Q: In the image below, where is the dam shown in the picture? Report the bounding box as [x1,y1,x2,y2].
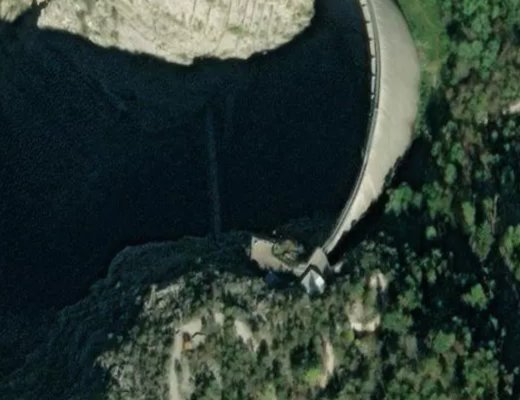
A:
[321,0,419,255]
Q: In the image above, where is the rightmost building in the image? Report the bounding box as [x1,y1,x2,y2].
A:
[301,270,325,294]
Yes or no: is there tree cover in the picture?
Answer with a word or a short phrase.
Yes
